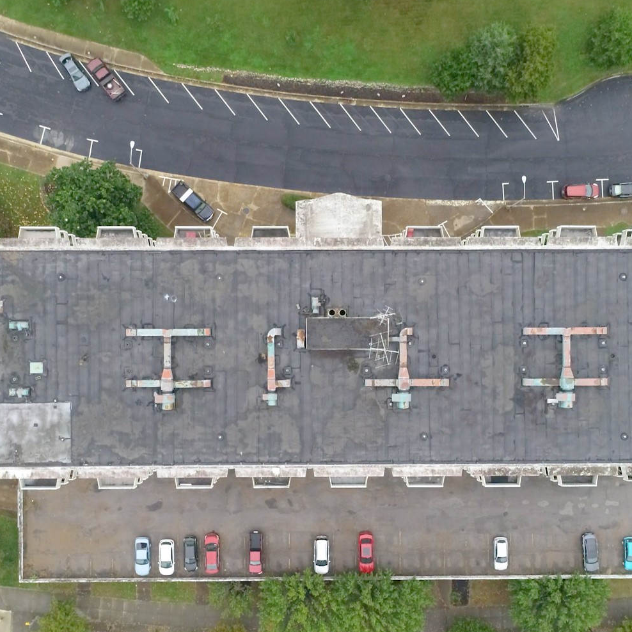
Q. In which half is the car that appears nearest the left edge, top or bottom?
top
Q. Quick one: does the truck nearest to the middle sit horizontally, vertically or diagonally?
diagonally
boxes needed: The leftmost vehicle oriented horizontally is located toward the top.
[561,181,598,199]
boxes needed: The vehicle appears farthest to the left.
[60,53,91,95]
